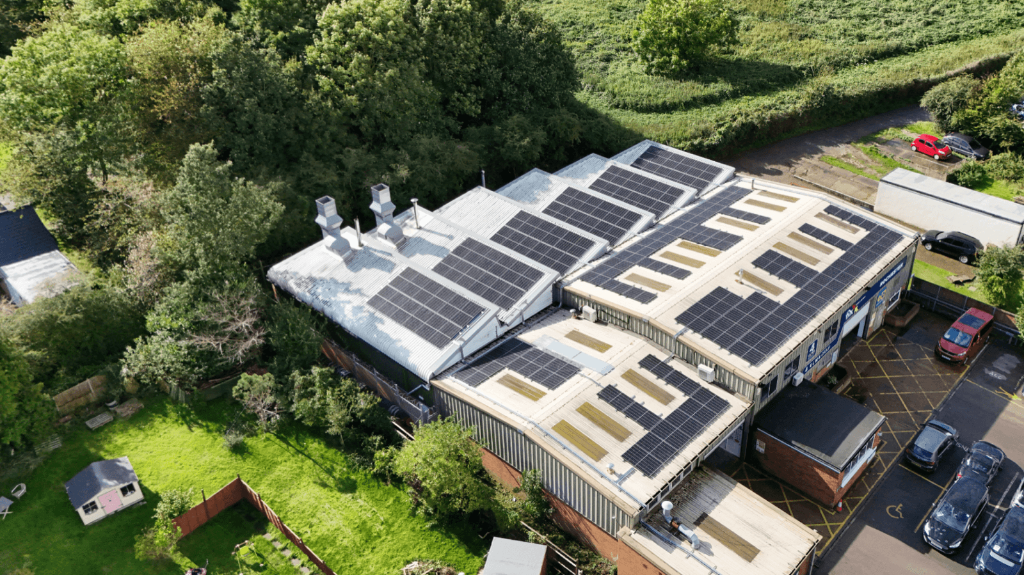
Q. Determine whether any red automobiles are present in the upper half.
Yes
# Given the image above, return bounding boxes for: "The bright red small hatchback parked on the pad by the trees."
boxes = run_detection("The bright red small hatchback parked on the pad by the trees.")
[911,132,956,158]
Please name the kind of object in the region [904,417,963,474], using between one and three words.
car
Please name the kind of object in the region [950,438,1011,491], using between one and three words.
car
